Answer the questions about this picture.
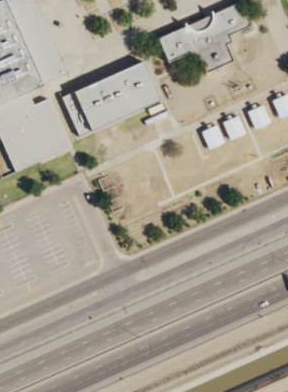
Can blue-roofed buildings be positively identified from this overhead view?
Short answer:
No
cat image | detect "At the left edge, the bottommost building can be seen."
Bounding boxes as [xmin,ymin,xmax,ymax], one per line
[0,90,70,172]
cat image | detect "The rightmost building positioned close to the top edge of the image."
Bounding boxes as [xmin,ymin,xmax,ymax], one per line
[160,4,250,72]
